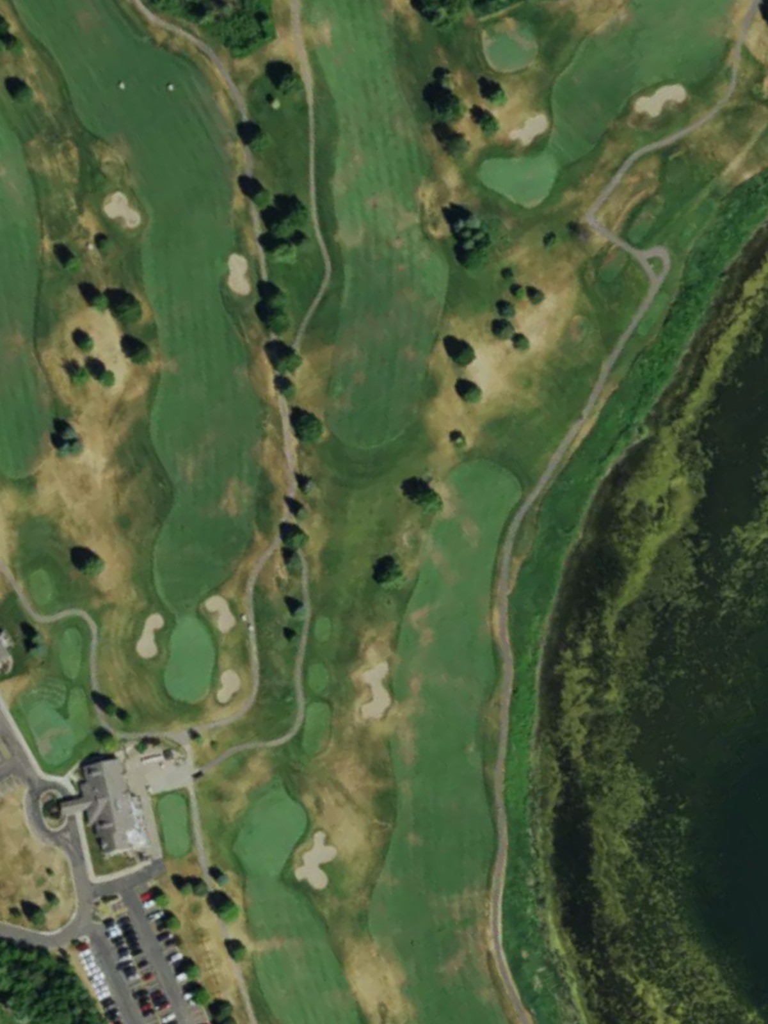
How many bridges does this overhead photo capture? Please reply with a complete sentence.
The count of bridges is 0.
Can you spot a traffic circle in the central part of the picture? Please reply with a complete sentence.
No, I can find no traffic circle in the central part of the picture.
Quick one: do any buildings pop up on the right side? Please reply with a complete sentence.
No, there's no building to be seen on the right side.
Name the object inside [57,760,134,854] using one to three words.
building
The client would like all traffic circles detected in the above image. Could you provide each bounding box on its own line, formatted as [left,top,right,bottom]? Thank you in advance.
[39,789,67,831]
